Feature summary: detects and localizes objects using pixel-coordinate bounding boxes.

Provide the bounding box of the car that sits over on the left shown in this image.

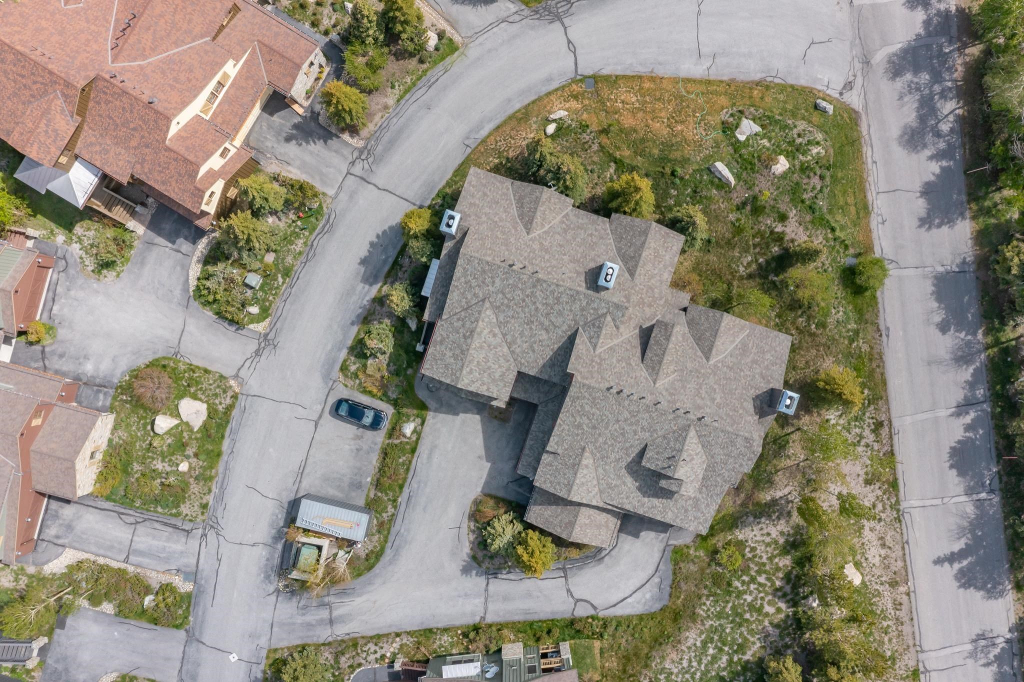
[333,399,389,433]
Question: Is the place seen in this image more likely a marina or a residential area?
residential area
